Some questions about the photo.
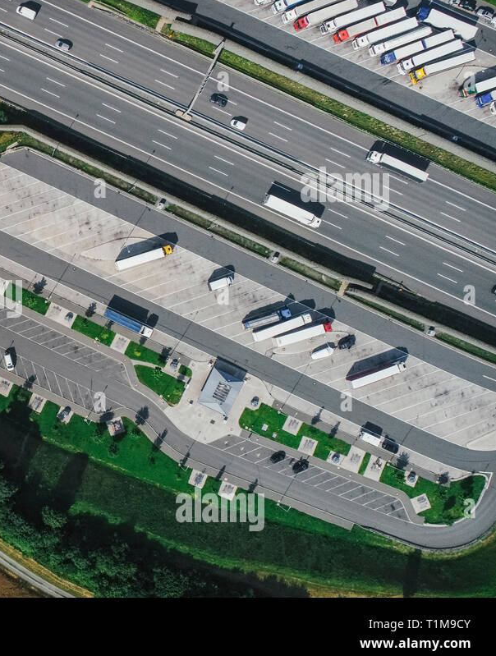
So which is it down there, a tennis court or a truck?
truck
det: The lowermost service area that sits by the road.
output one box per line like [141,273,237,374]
[0,146,496,553]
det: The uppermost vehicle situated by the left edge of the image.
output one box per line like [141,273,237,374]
[17,6,35,20]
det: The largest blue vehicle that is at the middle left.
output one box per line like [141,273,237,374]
[102,308,156,339]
